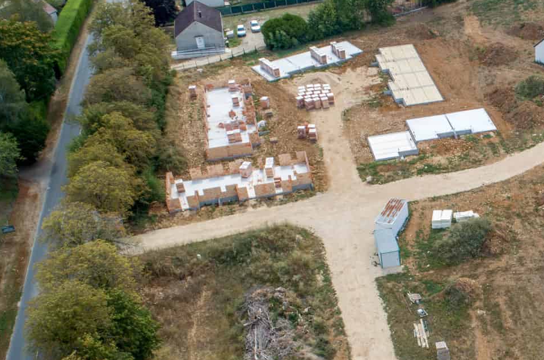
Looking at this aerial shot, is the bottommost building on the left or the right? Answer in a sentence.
You can find the bottommost building on the right side of the picture.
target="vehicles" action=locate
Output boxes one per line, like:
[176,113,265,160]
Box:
[235,23,246,35]
[249,18,261,30]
